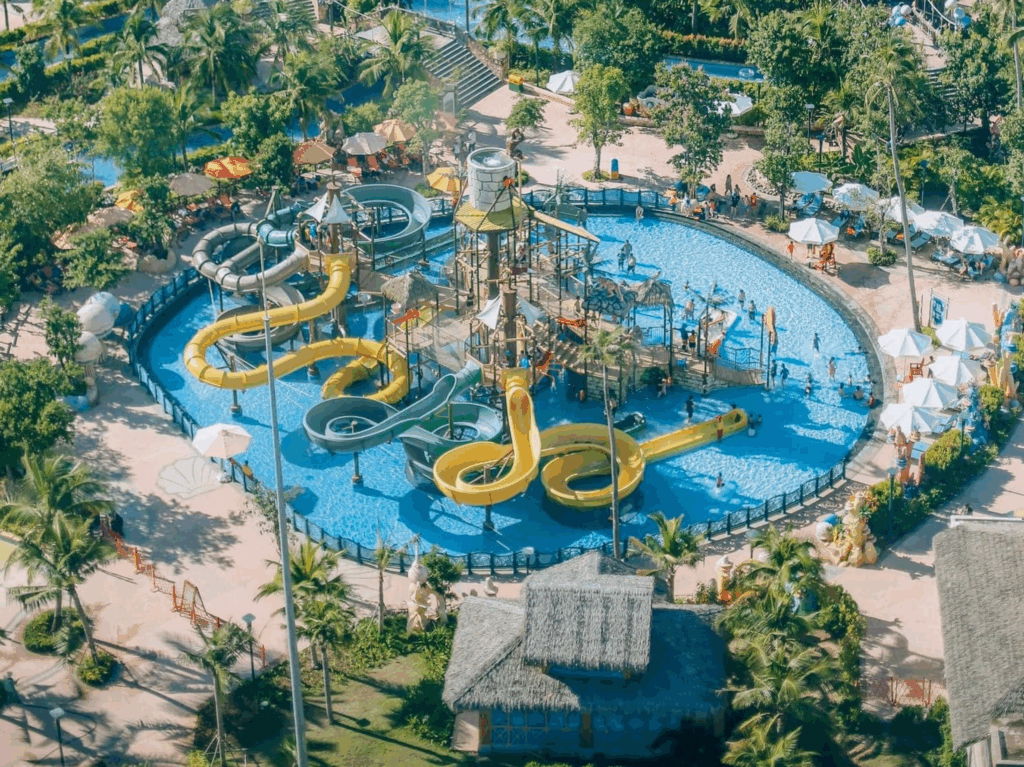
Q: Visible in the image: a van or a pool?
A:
pool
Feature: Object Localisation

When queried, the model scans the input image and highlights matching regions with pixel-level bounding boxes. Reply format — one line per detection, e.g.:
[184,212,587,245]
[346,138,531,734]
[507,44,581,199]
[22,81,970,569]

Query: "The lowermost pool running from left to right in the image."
[132,214,870,572]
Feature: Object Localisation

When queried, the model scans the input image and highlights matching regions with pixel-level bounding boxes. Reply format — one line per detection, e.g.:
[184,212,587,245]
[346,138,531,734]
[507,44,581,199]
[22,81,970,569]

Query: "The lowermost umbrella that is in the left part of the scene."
[194,429,250,460]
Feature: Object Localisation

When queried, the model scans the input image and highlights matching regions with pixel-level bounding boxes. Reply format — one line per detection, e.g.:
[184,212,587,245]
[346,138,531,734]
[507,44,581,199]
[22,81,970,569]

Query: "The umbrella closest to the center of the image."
[425,172,465,216]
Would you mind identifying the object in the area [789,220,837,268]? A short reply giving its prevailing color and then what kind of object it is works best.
white umbrella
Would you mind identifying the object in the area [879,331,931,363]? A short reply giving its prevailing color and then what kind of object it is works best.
white umbrella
